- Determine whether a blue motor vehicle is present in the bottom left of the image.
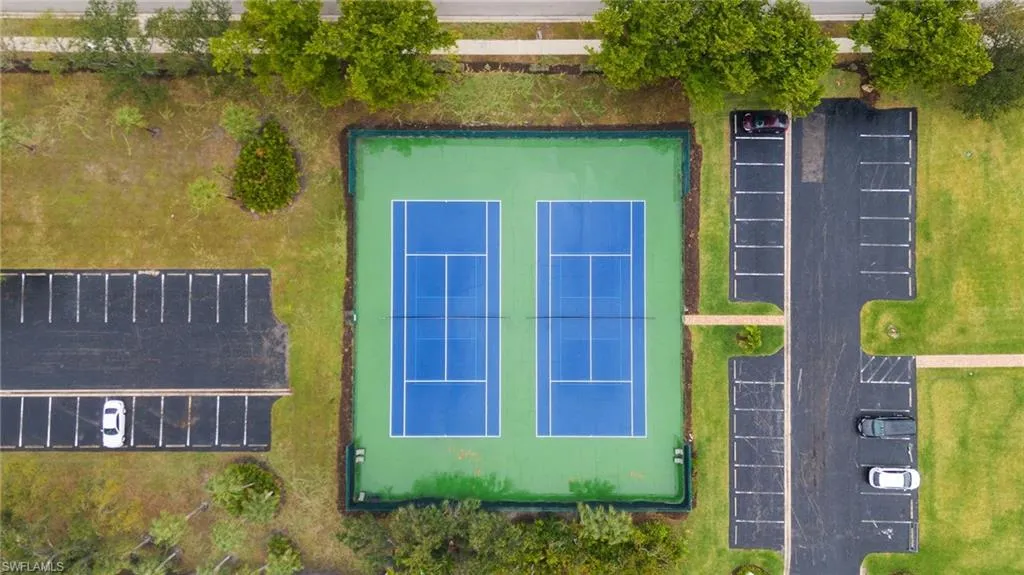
No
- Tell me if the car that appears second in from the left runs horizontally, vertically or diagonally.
horizontally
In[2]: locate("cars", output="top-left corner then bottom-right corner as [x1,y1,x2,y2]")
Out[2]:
[868,467,920,491]
[743,111,789,132]
[102,399,128,448]
[856,414,915,438]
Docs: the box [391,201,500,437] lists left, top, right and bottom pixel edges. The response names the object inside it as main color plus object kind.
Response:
blue tennis court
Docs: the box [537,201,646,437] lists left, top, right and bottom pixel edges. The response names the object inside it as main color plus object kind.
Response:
blue tennis court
